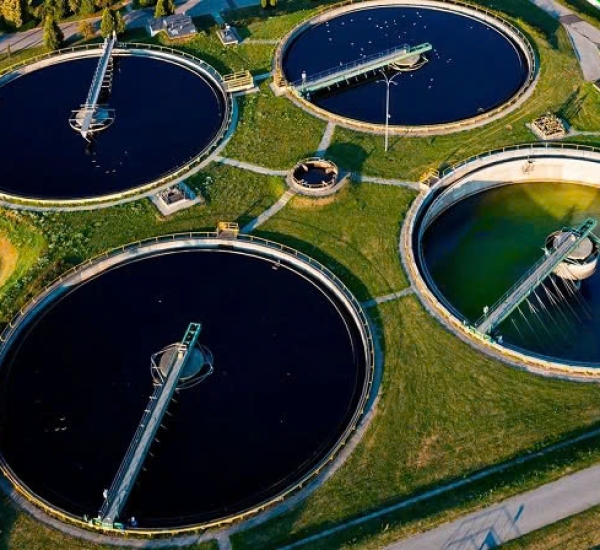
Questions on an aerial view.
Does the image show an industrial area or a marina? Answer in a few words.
industrial area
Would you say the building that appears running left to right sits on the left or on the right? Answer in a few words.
left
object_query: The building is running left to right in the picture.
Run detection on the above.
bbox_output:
[146,21,199,46]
